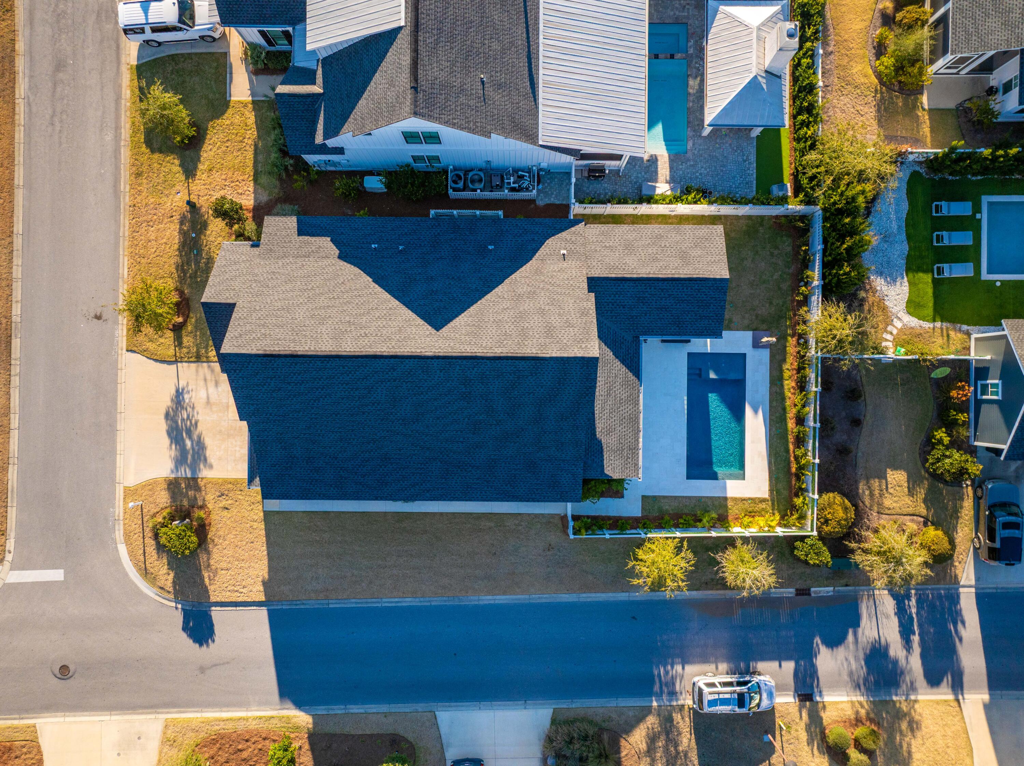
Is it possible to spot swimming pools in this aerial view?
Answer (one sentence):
Yes, the photo shows a swimming pool.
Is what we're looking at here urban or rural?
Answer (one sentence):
This place is urban.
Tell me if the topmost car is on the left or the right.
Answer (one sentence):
The topmost car is on the left side of the image.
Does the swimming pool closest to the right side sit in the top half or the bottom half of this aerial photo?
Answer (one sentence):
The top half of the photo is where the swimming pool closest to the right side is.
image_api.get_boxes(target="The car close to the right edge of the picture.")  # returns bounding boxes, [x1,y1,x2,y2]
[973,477,1024,564]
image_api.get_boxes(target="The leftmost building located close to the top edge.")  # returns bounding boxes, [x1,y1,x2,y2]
[216,0,649,175]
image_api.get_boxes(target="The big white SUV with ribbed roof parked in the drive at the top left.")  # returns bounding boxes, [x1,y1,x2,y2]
[117,0,229,47]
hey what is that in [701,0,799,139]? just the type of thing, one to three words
building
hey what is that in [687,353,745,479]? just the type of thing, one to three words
swimming pool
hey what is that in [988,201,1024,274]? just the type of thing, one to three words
swimming pool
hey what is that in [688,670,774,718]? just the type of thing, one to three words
car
